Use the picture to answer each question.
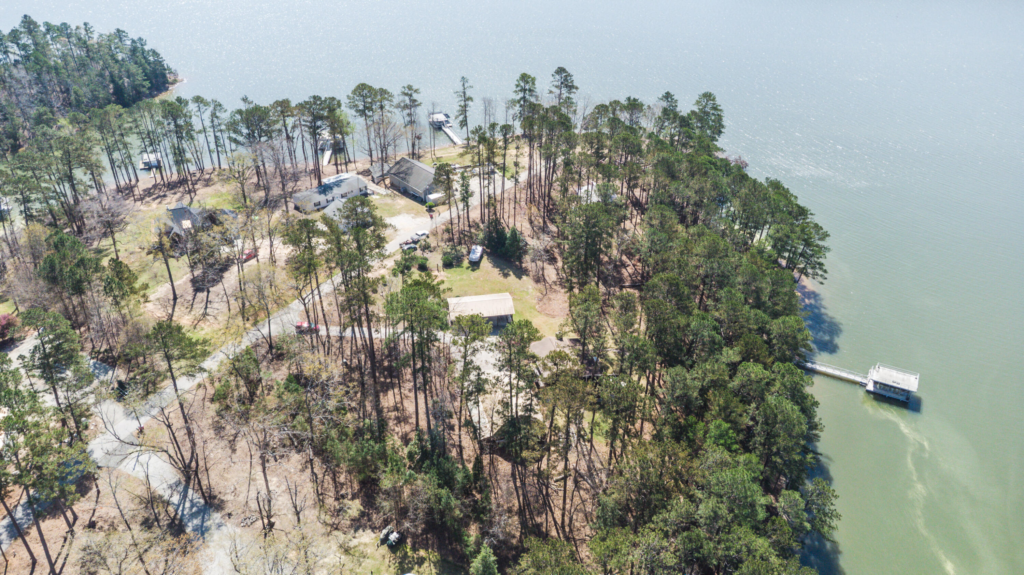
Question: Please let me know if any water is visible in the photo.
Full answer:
Yes, water can be seen from above here.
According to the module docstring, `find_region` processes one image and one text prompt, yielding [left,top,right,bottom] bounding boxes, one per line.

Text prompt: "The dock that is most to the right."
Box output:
[800,359,919,410]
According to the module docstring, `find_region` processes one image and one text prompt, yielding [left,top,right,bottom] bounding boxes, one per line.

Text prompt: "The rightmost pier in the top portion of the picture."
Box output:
[428,113,462,143]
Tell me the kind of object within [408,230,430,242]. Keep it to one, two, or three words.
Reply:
vehicle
